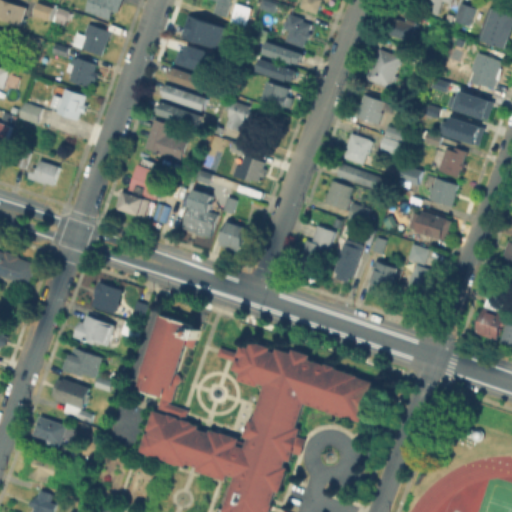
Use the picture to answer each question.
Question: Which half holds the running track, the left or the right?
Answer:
right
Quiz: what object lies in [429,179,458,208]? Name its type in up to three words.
house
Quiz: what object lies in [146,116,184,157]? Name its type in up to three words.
house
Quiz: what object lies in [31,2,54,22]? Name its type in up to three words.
building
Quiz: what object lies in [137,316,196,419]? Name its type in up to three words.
building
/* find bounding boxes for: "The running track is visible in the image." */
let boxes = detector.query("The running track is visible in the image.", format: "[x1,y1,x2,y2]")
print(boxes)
[412,456,512,512]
